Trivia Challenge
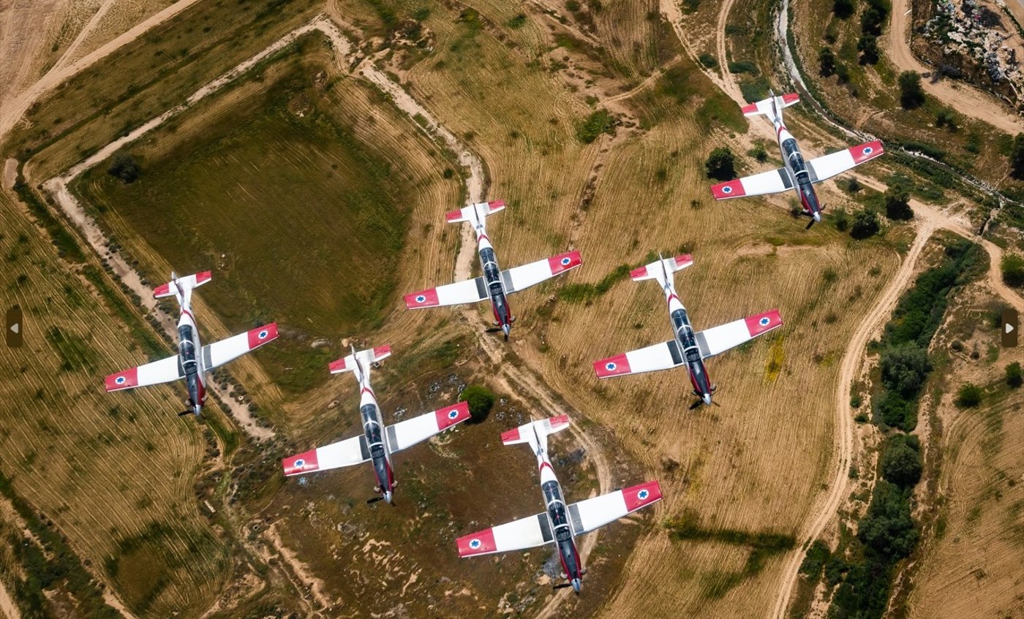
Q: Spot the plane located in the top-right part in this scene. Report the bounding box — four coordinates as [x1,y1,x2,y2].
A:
[711,91,885,232]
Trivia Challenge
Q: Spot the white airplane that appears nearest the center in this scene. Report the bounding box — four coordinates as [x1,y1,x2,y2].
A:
[406,198,582,345]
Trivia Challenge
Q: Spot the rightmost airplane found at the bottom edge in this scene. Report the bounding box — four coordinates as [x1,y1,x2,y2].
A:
[458,415,663,600]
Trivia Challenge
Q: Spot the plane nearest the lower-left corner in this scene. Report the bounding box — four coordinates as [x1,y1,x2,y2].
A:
[106,271,279,423]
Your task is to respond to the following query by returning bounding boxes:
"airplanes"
[284,345,471,511]
[406,198,582,345]
[711,91,885,232]
[106,271,279,423]
[594,254,783,412]
[458,415,663,600]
